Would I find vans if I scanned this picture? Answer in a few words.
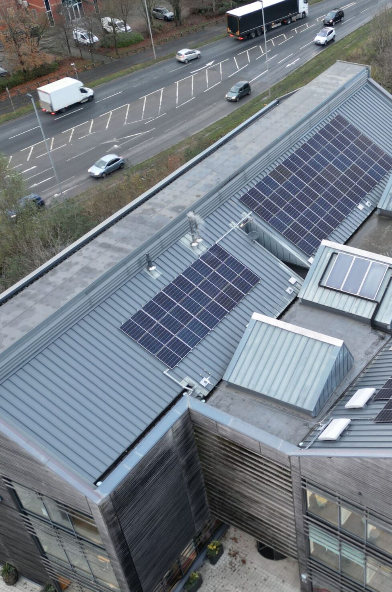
Yes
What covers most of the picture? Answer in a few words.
buildings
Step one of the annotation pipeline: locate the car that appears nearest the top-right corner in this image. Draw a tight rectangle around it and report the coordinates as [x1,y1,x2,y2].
[323,9,345,26]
